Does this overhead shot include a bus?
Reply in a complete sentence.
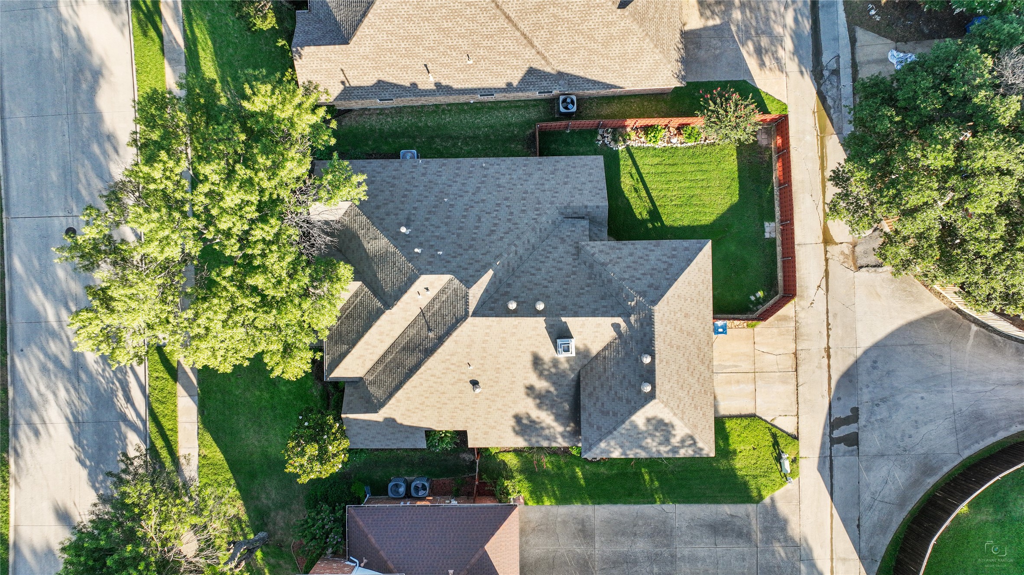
No, I find no bus anywhere in the image.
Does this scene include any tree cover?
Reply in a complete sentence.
Yes, tree cover can be seen from above here.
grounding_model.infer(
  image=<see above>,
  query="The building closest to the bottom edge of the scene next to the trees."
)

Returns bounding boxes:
[296,477,520,575]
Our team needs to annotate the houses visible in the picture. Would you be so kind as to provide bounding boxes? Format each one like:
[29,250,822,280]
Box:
[296,477,520,575]
[291,0,688,109]
[309,155,717,460]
